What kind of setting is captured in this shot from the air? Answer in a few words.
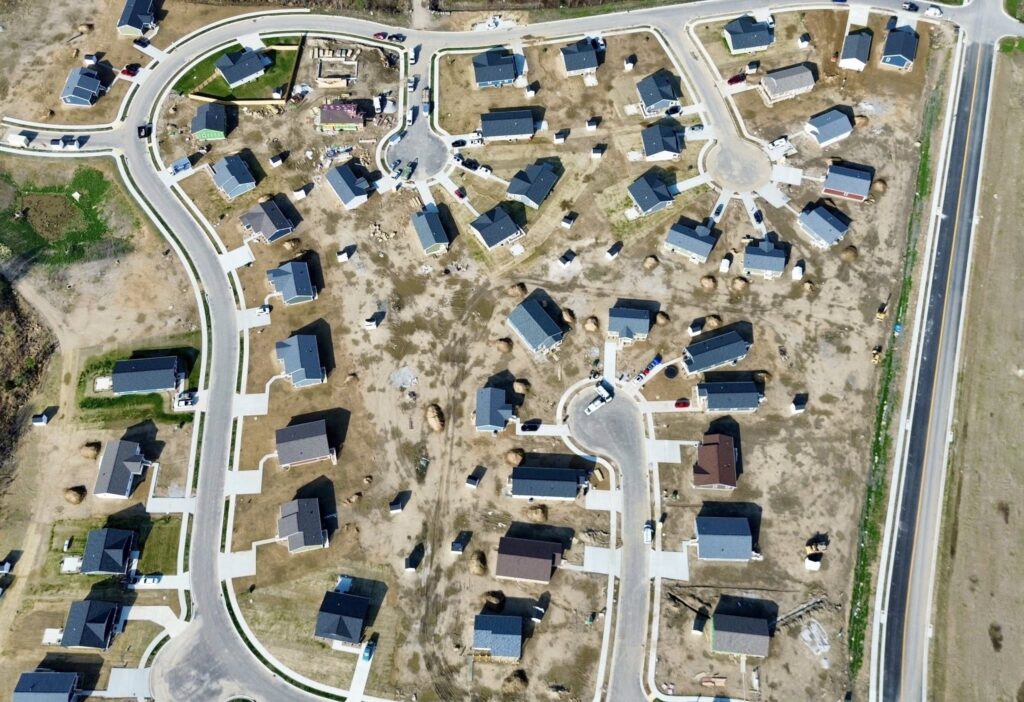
residential area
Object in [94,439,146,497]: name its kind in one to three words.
house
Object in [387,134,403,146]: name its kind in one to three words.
vehicle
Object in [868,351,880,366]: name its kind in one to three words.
vehicle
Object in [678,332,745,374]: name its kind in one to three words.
house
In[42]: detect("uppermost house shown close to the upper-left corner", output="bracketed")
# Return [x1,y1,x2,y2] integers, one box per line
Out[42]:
[117,0,157,35]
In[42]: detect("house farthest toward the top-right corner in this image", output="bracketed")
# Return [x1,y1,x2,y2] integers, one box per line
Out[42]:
[881,27,917,70]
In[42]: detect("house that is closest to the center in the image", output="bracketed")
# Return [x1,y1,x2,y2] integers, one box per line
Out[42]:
[508,299,563,357]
